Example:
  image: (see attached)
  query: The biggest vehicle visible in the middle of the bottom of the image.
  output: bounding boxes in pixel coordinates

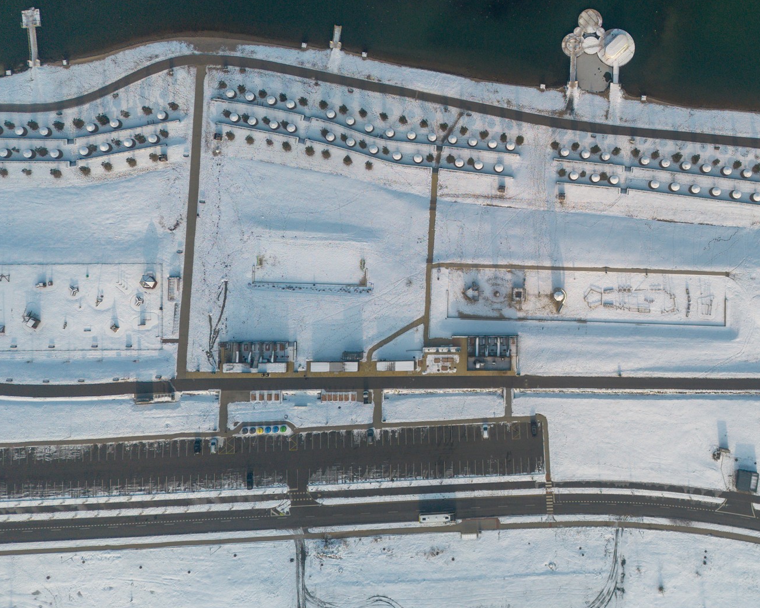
[419,511,460,523]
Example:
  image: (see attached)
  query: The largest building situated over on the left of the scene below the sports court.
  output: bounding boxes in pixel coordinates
[219,340,299,372]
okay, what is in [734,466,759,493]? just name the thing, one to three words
shed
